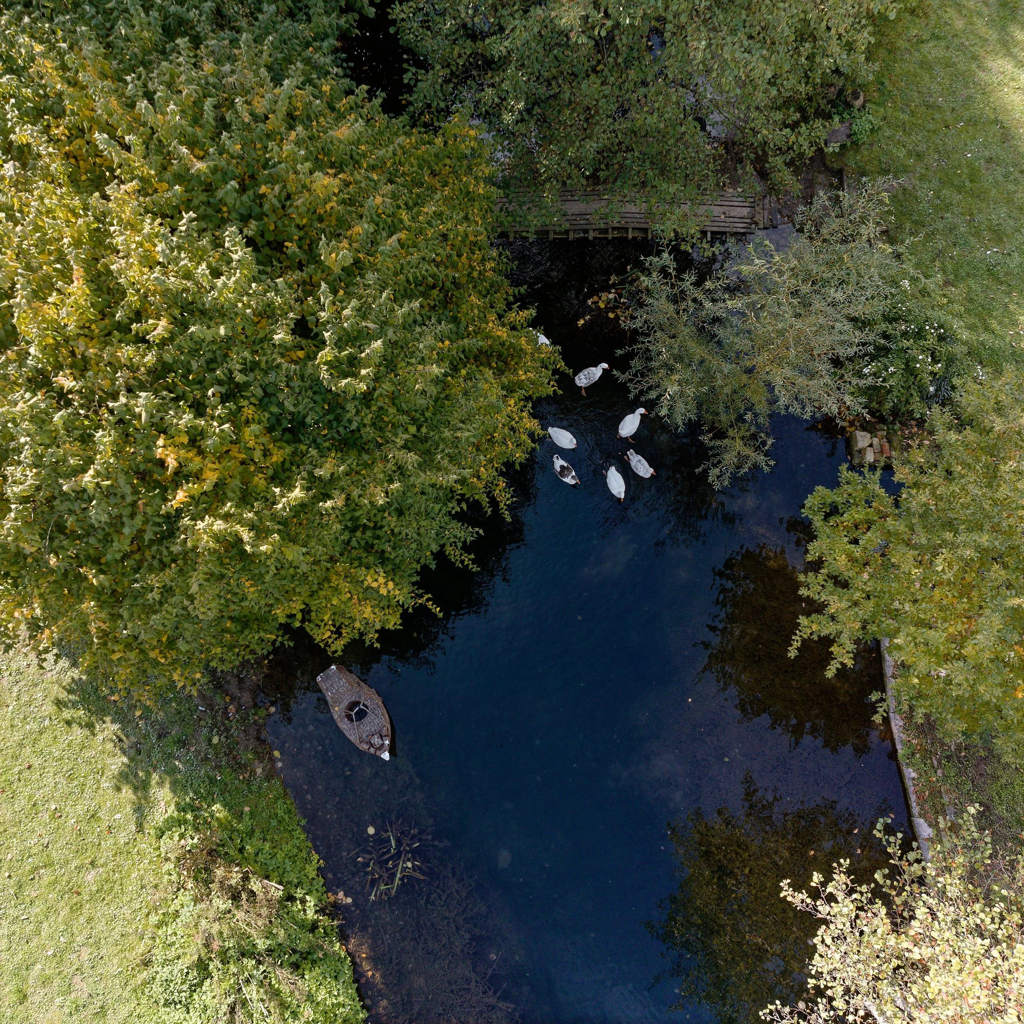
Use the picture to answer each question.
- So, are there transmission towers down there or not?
No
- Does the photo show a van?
No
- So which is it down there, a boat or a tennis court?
boat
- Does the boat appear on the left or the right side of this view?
left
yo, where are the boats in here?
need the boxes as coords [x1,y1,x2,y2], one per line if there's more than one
[316,665,391,761]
